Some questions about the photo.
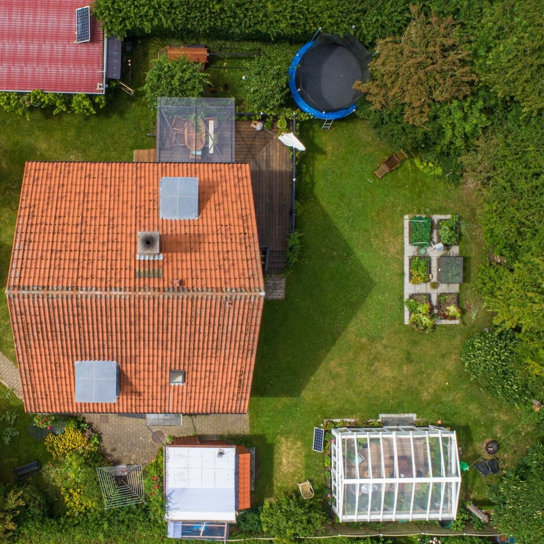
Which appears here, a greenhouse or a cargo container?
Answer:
greenhouse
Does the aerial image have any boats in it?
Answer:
No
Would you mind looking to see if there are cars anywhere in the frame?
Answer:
No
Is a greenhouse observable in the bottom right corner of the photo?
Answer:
Yes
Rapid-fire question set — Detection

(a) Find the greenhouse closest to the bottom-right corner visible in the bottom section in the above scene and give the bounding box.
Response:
[331,426,464,523]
